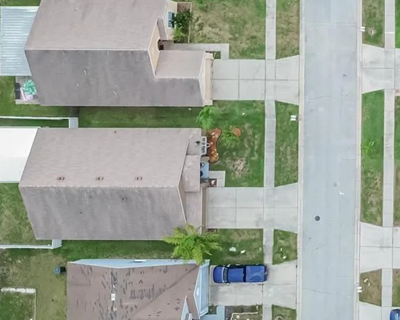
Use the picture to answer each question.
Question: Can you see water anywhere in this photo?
No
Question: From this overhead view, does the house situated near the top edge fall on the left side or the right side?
left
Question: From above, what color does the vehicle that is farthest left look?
blue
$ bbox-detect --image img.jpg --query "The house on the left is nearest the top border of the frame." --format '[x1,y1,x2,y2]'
[20,0,214,106]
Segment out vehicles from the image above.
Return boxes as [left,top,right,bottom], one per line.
[215,265,268,285]
[389,309,400,320]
